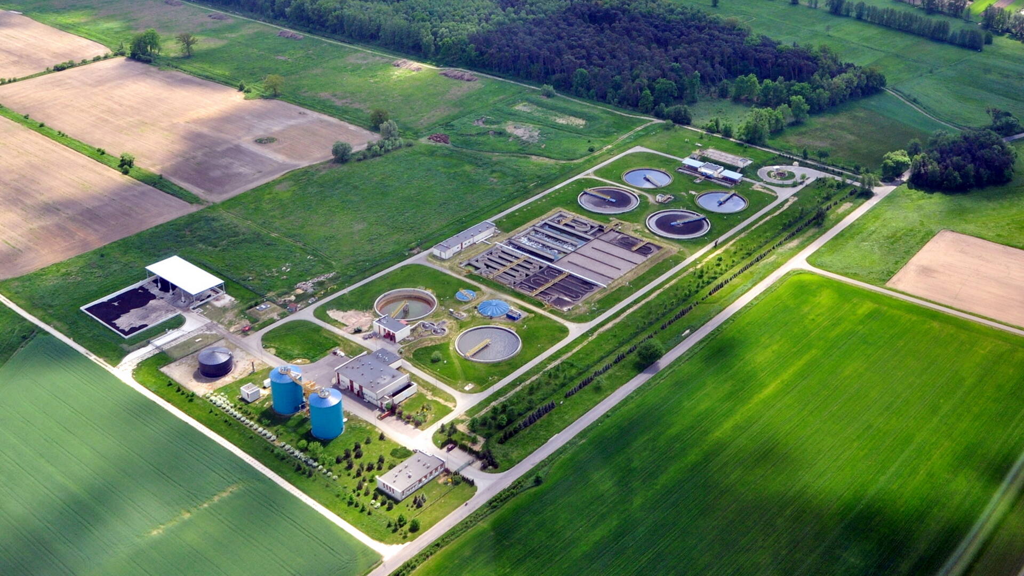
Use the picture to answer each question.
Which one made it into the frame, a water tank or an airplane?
water tank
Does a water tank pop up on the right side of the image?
Yes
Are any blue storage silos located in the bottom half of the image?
Yes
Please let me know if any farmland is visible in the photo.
Yes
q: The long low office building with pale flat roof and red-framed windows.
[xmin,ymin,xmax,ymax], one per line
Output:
[377,447,444,501]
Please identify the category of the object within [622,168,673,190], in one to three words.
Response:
water tank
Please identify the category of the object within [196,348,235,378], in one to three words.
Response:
storage tank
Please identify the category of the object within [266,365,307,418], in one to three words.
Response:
silo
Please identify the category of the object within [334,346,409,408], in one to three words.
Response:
building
